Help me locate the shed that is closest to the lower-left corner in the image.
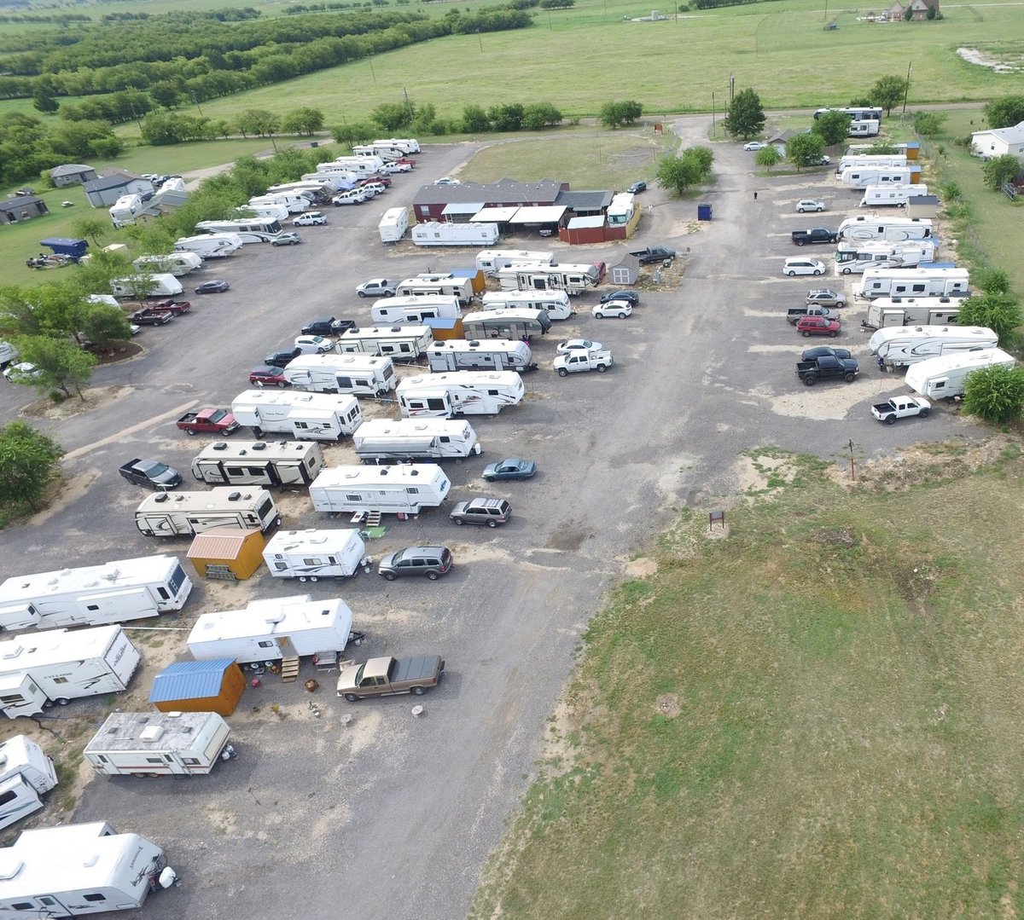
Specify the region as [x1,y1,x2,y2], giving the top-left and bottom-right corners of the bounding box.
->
[140,655,252,716]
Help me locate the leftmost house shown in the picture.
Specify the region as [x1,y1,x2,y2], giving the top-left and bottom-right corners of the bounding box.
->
[0,190,53,227]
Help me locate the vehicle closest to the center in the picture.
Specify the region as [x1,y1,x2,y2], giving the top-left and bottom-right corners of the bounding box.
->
[476,455,540,481]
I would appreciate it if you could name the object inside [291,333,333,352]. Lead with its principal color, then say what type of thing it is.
white car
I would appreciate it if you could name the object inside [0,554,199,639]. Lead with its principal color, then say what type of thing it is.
white camper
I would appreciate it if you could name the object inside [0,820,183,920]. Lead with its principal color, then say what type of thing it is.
white trailer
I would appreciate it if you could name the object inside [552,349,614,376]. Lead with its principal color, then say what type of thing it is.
white truck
